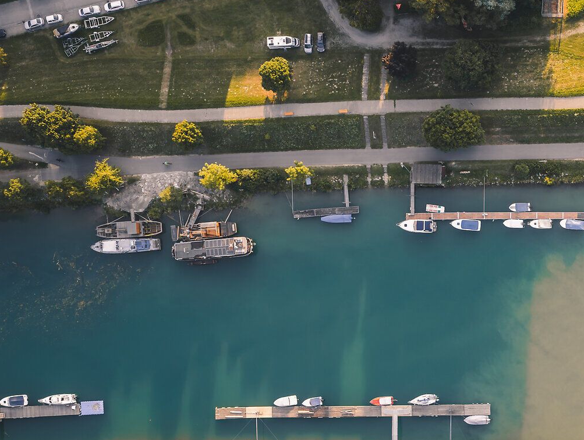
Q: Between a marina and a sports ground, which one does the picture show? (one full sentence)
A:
It's a marina.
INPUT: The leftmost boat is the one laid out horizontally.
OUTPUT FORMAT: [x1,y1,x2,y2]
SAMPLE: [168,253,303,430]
[0,394,31,407]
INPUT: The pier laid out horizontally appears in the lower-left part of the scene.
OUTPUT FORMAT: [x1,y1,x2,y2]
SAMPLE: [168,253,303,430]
[0,403,80,421]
